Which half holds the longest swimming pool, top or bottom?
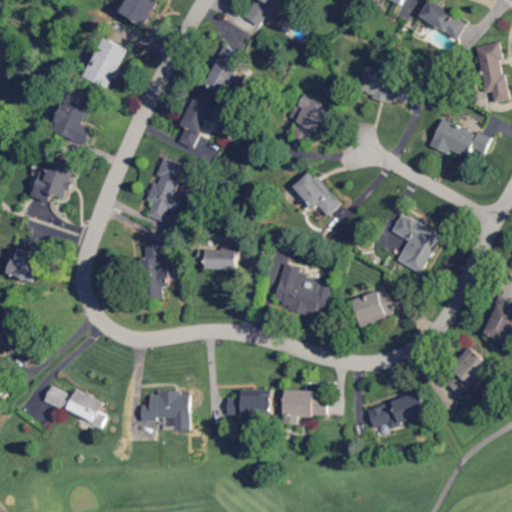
top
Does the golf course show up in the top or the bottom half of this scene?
bottom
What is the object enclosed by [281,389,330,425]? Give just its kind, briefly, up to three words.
house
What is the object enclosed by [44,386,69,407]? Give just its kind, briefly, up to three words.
building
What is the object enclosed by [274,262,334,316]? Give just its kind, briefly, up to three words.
house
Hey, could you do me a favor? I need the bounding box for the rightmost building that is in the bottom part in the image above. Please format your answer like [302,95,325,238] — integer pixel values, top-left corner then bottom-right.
[484,295,512,338]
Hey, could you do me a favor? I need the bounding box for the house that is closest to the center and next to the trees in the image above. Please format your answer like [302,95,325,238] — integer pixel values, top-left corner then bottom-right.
[202,249,236,270]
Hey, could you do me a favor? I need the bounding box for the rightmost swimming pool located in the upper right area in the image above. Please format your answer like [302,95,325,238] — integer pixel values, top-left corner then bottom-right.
[413,27,458,50]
